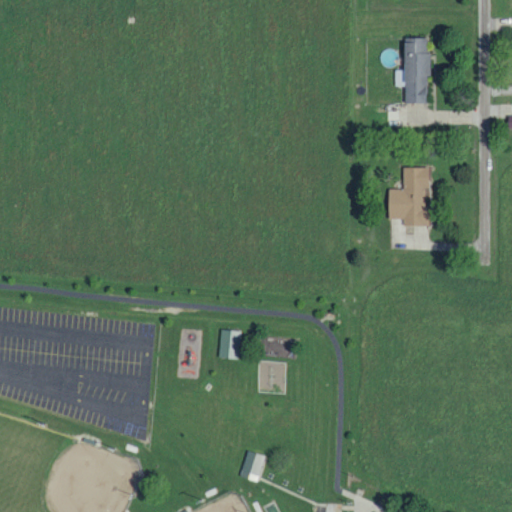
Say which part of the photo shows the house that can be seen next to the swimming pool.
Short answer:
top right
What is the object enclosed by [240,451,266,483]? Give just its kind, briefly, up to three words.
building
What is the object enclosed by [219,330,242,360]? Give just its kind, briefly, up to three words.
building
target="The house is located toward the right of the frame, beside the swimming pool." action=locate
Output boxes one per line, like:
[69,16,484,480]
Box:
[405,37,432,103]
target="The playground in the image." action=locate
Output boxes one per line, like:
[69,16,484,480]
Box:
[177,329,203,379]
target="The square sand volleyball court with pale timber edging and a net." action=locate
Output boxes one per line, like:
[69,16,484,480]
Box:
[258,361,288,394]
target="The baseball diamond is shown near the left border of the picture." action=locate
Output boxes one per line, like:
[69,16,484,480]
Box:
[0,413,141,512]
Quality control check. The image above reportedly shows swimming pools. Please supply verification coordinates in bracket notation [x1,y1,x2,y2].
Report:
[380,49,399,68]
